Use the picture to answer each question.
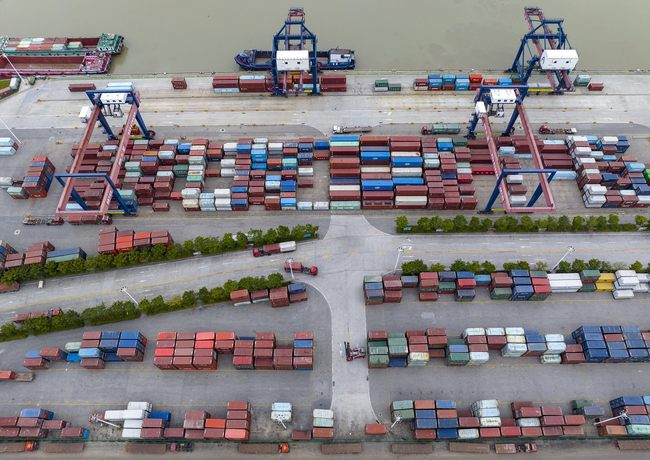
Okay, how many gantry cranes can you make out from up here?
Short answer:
4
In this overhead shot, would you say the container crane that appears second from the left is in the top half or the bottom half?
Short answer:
top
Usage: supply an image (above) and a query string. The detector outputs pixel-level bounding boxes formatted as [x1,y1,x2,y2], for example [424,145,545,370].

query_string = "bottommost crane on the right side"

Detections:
[464,87,556,210]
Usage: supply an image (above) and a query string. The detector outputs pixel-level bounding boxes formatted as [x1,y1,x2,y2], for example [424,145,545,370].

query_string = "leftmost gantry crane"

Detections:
[54,91,158,214]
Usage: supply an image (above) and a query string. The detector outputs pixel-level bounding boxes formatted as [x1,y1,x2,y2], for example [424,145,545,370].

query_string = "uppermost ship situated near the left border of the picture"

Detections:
[0,32,123,56]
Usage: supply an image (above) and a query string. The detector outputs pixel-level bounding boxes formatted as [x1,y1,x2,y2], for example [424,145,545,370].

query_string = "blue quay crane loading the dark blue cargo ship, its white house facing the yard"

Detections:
[267,6,321,95]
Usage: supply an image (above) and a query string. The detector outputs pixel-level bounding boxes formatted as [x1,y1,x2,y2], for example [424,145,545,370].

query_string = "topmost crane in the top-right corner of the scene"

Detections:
[506,2,577,91]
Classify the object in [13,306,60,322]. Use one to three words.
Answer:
vehicle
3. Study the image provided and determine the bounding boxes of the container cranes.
[54,91,158,214]
[464,87,556,210]
[267,6,321,95]
[506,2,577,91]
